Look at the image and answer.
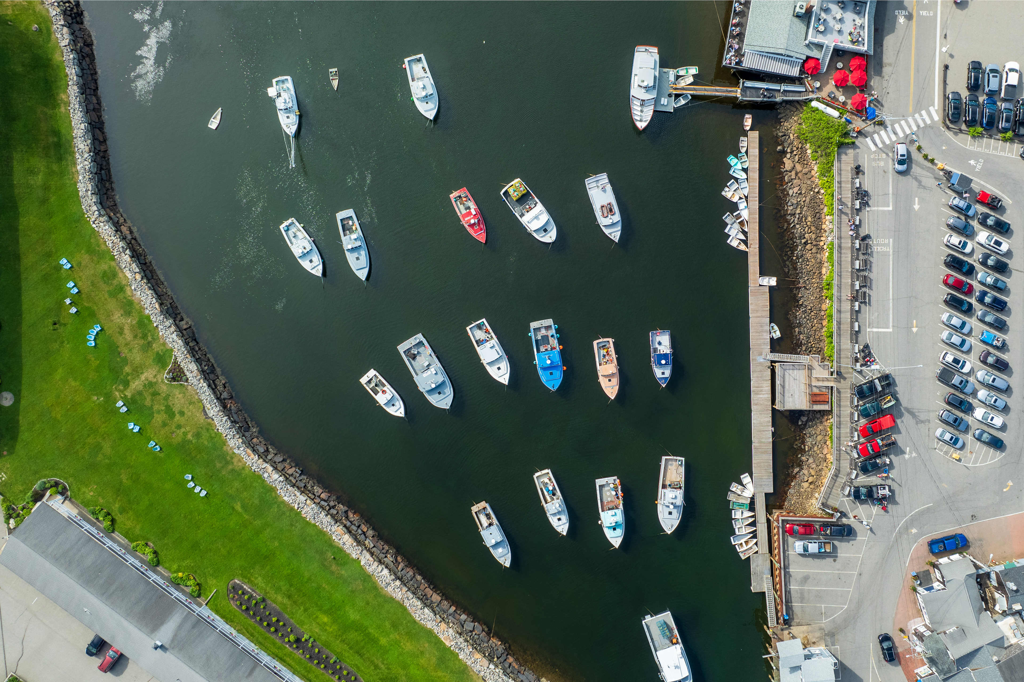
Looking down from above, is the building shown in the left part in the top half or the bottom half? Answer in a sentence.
It is in the bottom half that the building shown in the left part appears.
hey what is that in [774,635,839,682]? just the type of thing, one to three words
shed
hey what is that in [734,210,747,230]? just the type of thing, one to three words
boat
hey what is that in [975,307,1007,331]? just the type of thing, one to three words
car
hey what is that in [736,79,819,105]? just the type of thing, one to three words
pier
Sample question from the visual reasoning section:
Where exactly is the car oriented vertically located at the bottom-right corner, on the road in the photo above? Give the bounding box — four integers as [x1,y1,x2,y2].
[878,632,895,664]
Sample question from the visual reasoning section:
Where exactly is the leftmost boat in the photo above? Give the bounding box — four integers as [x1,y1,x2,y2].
[208,107,222,129]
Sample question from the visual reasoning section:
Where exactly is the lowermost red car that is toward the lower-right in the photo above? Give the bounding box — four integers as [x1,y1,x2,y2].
[785,523,815,537]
